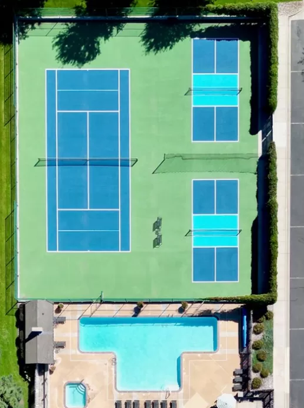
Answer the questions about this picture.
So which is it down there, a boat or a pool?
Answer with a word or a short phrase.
pool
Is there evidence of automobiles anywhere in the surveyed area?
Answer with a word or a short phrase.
No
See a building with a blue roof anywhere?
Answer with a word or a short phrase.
No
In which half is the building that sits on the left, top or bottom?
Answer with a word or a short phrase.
bottom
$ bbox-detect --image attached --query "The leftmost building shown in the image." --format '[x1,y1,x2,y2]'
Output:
[25,300,54,363]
